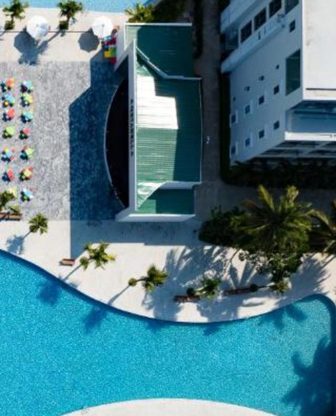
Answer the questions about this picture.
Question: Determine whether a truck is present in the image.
No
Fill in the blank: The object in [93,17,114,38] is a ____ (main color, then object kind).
white umbrella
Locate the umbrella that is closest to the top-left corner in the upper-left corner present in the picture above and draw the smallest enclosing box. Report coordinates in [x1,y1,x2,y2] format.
[27,18,48,39]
